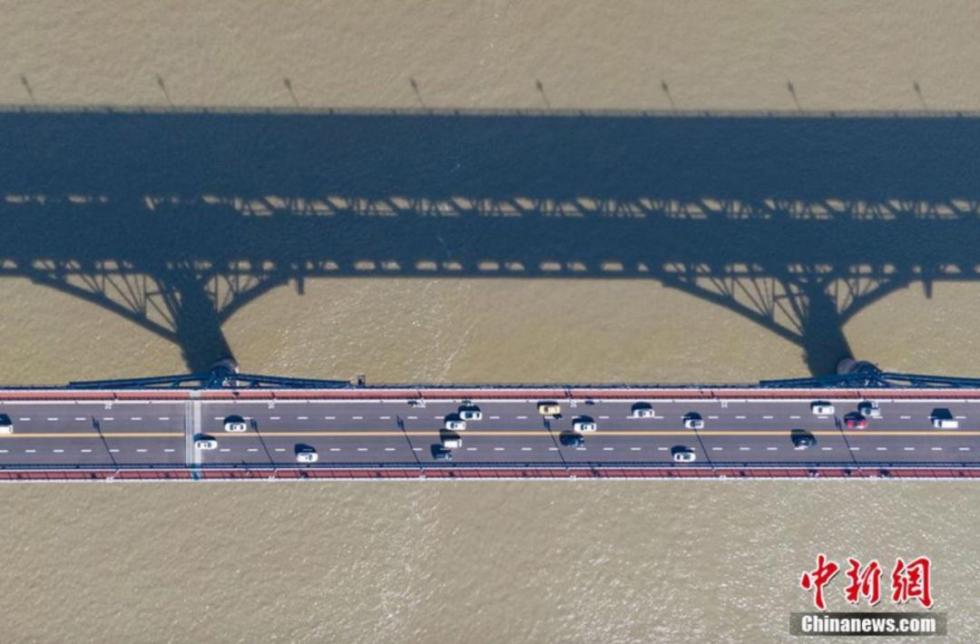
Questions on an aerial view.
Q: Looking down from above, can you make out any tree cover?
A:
No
